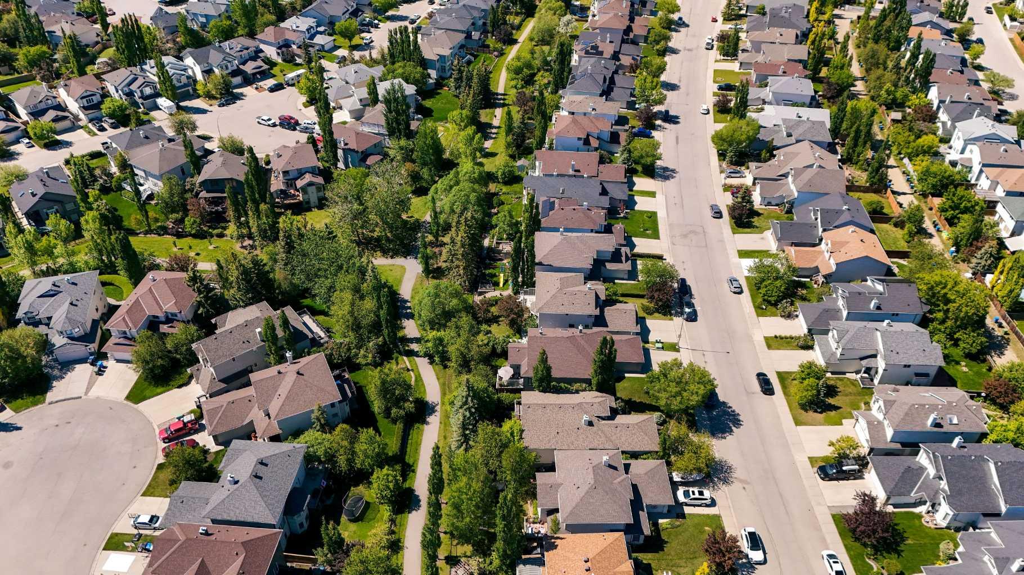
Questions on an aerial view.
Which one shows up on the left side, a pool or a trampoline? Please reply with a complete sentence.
You can see a trampoline on the left side.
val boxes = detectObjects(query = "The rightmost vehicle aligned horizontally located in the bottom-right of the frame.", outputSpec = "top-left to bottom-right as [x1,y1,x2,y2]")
[819,461,859,479]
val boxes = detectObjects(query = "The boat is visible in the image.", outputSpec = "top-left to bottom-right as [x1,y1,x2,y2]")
[668,465,714,484]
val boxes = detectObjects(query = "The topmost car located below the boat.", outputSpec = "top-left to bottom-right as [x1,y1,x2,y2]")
[676,487,714,506]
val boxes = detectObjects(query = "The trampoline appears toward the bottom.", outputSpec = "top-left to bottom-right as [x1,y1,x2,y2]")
[337,487,367,520]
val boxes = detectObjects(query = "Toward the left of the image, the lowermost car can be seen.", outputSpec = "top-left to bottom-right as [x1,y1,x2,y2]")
[125,513,161,531]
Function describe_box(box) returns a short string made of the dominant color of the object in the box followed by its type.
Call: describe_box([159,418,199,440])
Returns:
red truck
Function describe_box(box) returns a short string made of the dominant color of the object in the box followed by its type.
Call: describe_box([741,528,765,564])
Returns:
white car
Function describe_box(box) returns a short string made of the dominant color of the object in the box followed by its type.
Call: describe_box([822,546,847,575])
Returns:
white car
